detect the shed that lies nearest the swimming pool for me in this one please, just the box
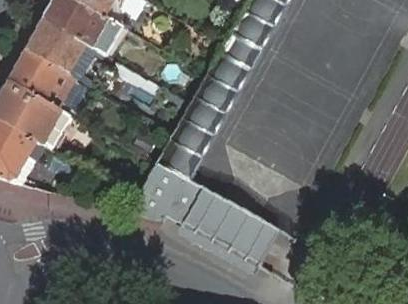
[116,64,159,96]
